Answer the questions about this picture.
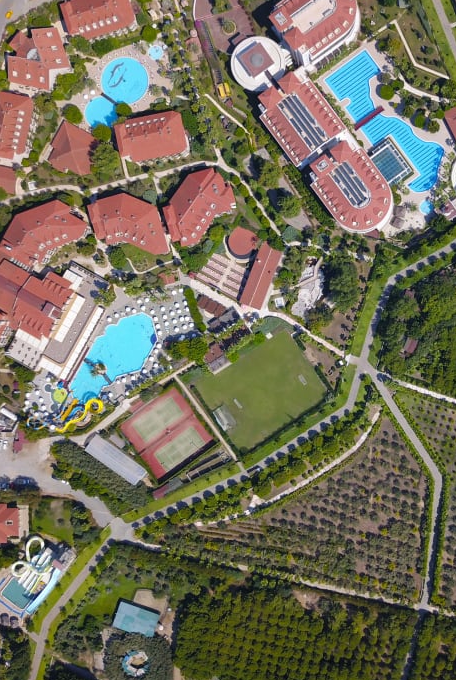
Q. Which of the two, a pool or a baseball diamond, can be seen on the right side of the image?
pool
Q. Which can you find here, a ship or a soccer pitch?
soccer pitch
